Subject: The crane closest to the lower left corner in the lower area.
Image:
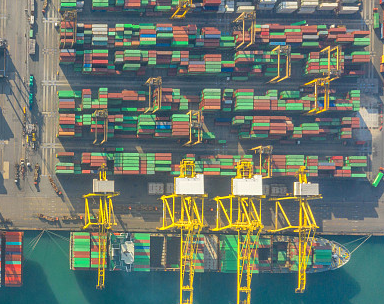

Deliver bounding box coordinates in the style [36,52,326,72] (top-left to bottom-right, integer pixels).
[76,164,116,290]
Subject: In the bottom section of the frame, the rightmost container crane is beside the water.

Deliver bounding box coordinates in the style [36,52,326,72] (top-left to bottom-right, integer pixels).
[263,171,322,294]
